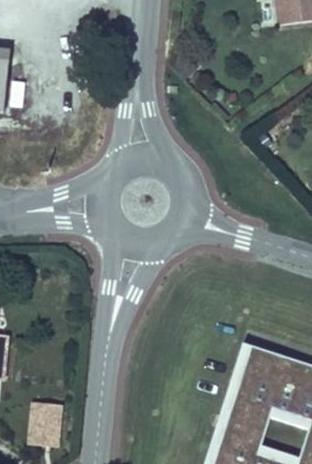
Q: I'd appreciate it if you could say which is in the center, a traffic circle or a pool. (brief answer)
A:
traffic circle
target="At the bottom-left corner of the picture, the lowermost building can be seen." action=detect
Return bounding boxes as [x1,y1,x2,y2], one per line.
[26,402,64,448]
